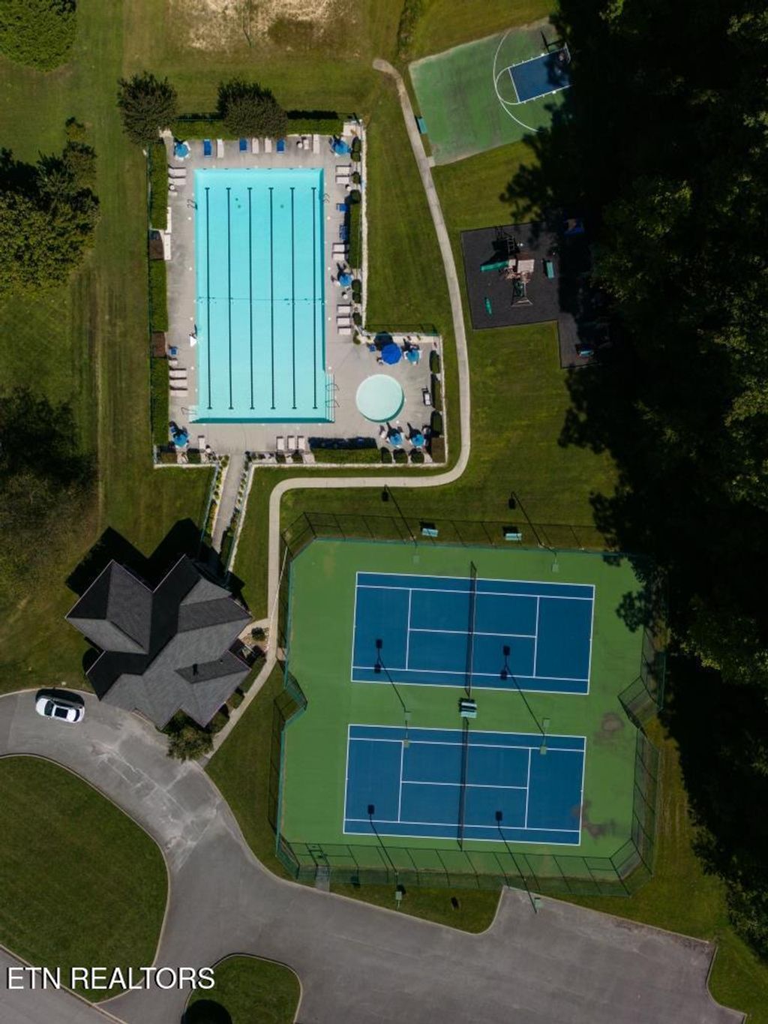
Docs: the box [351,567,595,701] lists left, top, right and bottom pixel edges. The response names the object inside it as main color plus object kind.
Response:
blue tennis court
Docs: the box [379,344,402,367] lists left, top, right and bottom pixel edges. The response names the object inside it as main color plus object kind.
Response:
blue umbrella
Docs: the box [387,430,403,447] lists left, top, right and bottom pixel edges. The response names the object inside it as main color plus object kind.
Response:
blue umbrella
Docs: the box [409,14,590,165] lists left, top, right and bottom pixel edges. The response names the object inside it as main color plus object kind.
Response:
green basketball court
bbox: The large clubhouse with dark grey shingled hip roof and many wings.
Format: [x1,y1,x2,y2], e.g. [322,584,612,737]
[66,554,269,730]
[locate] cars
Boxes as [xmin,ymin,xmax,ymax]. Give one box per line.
[33,696,81,723]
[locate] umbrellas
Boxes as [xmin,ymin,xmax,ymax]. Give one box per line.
[334,140,350,157]
[172,430,189,447]
[337,273,353,289]
[174,143,191,160]
[387,430,403,447]
[405,349,421,365]
[409,432,425,448]
[379,344,402,367]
